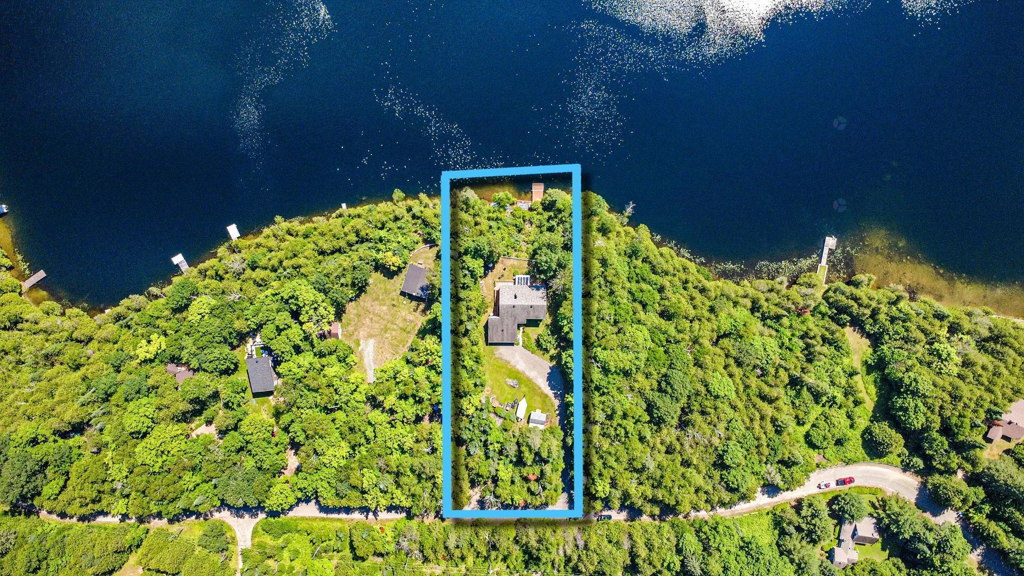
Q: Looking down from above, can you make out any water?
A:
Yes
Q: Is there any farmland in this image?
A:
No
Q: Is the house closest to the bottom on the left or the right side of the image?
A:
right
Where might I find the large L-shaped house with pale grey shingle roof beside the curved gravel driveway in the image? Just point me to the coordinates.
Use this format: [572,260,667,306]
[488,275,546,342]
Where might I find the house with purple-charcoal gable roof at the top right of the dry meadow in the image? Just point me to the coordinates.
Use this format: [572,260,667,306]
[401,263,429,298]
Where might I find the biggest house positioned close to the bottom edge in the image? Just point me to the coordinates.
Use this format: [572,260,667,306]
[828,514,879,568]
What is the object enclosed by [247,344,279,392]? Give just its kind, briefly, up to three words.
building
